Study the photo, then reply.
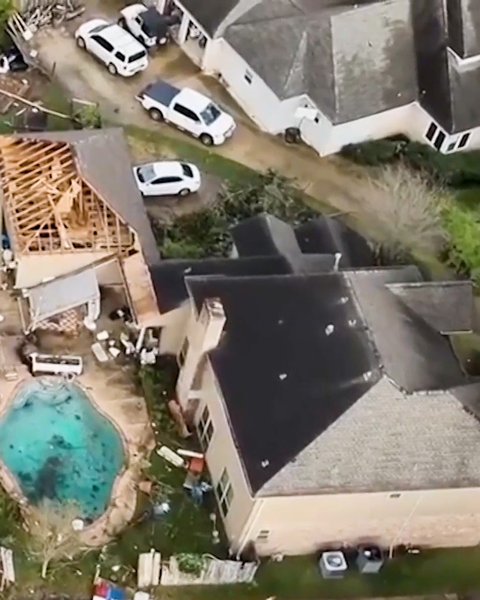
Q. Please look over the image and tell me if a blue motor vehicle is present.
No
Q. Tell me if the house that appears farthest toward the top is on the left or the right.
right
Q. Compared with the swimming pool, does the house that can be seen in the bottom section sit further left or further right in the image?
right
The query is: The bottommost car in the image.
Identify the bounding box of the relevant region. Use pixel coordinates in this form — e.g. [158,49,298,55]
[132,157,202,195]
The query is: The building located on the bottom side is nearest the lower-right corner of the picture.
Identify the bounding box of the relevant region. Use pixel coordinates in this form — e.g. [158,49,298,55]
[144,212,480,551]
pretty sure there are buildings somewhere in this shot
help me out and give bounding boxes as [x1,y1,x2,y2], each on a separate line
[145,0,480,158]
[144,212,480,551]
